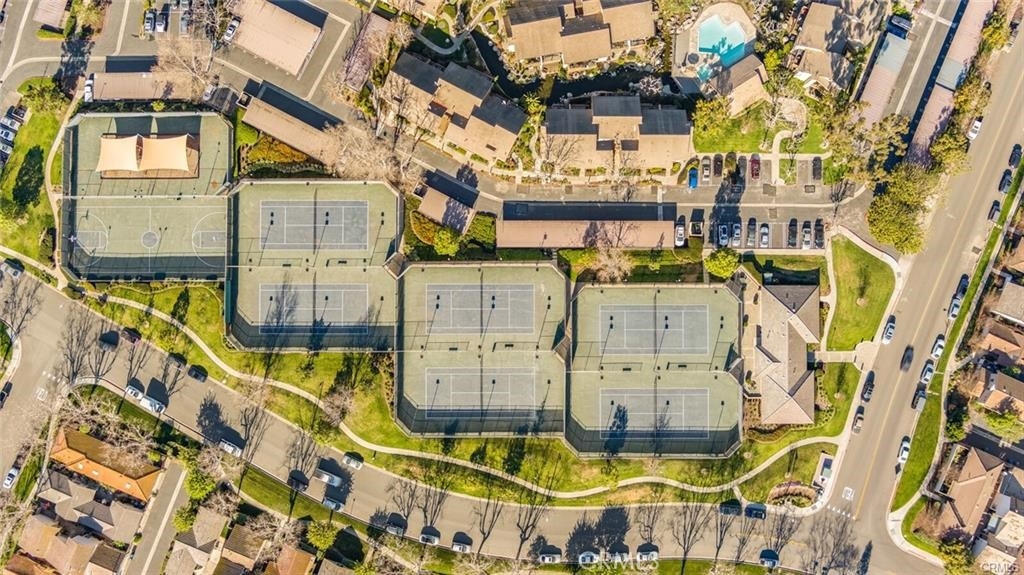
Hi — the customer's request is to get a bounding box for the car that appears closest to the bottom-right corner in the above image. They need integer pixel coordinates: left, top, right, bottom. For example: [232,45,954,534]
[898,441,912,463]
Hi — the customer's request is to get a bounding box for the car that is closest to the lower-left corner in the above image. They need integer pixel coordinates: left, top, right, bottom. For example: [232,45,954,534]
[2,468,17,489]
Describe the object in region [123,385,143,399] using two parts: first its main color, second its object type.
white car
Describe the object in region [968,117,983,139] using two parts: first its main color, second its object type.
white car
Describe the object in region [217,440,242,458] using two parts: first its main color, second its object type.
white vehicle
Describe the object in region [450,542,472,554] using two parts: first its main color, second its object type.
white vehicle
